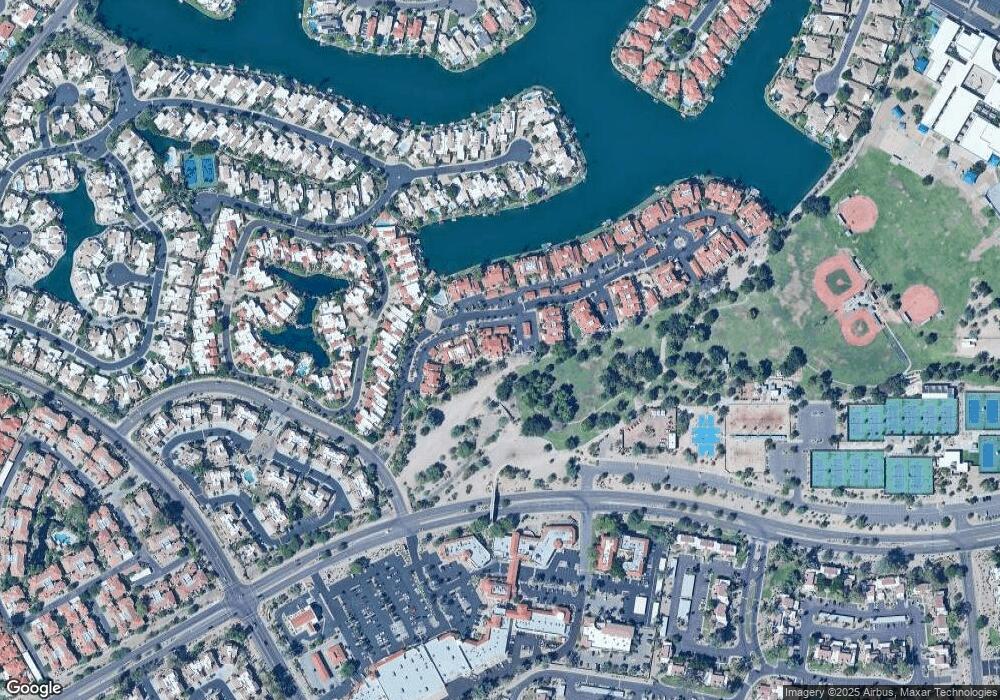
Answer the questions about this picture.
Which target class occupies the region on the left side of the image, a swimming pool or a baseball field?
swimming pool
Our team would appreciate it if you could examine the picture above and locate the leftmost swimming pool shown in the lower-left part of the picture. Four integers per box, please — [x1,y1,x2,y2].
[51,527,75,549]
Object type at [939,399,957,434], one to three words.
tennis court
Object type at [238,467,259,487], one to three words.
swimming pool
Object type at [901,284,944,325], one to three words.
baseball field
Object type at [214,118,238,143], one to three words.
house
